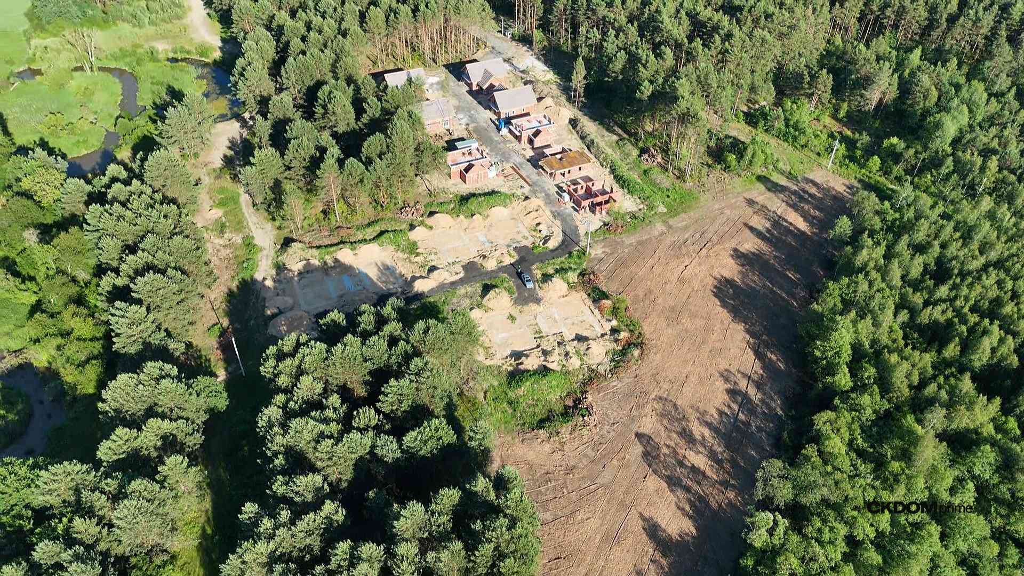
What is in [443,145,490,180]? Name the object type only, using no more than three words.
house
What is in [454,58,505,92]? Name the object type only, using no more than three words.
house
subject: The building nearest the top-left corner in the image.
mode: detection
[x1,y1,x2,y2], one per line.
[381,67,427,99]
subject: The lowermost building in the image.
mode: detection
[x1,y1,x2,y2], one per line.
[567,177,622,214]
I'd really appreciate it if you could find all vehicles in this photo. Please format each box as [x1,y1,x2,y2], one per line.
[519,271,535,287]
